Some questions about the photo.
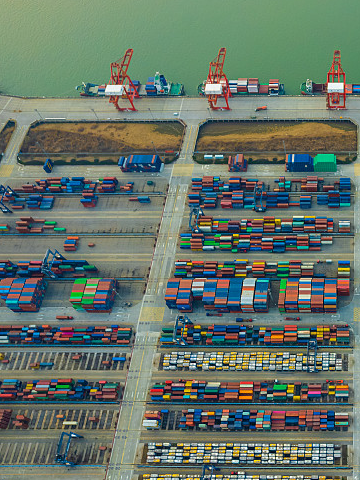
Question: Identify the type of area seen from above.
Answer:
port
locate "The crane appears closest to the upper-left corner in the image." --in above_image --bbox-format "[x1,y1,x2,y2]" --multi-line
[105,47,141,109]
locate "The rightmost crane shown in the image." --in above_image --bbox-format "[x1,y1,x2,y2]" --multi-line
[323,48,345,109]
